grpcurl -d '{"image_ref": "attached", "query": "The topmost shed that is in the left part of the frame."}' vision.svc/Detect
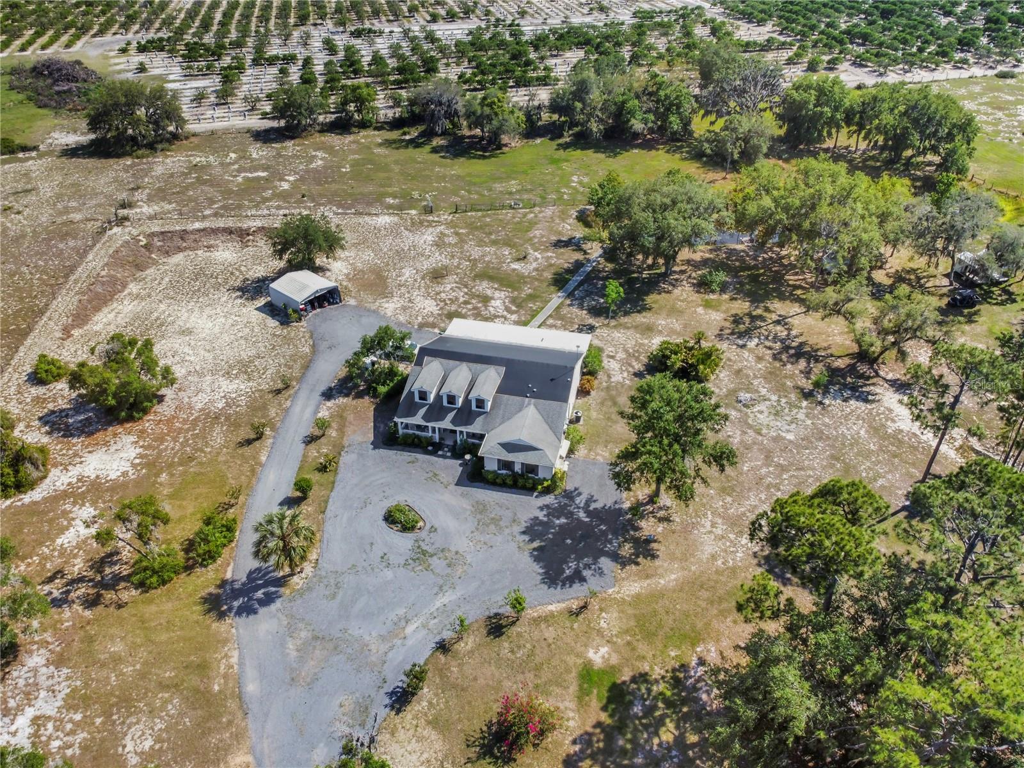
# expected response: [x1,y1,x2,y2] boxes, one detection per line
[266,267,343,320]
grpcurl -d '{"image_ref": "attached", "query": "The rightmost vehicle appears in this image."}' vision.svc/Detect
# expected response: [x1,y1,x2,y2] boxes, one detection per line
[952,288,985,307]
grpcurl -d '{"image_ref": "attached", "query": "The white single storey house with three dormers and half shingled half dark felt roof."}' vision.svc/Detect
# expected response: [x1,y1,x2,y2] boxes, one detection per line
[392,319,592,481]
